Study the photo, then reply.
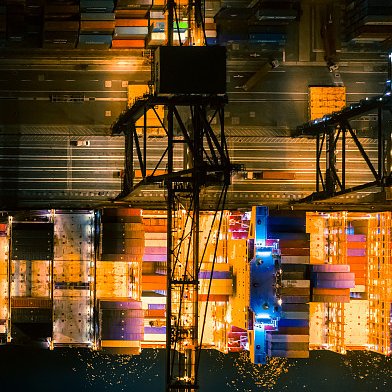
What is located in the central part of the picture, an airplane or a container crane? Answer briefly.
container crane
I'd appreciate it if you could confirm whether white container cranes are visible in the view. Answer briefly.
No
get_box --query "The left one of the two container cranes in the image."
[107,0,242,392]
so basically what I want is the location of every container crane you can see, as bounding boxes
[107,0,242,392]
[294,56,392,201]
